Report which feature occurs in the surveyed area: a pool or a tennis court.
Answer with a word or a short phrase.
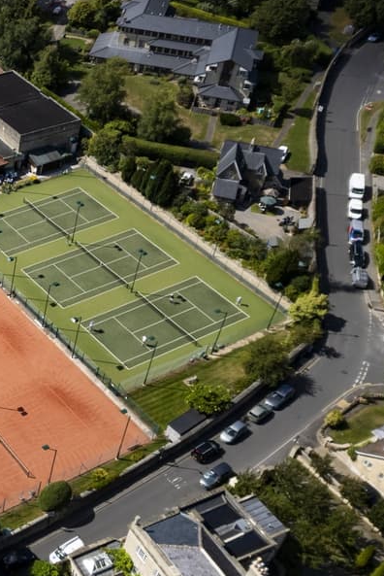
tennis court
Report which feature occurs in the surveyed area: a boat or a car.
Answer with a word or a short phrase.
car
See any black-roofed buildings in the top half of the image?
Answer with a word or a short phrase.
Yes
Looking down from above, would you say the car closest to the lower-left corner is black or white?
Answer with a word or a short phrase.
black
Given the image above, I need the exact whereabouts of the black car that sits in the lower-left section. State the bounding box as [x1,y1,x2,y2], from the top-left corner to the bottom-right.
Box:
[0,549,40,570]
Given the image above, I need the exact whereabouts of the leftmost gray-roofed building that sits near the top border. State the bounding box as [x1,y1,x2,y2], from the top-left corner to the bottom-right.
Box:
[90,0,260,113]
